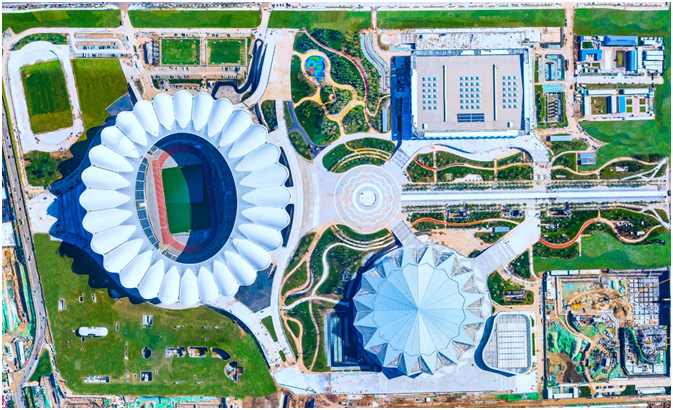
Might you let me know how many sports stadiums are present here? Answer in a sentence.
My tally gives 2 sports stadiums in this view.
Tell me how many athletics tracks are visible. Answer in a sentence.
In total, there are 2 athletics tracks in the scene.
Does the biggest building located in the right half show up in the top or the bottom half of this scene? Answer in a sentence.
The biggest building located in the right half is in the top half of the image.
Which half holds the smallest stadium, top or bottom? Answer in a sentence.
Seen from above, the smallest stadium lies in the bottom half of the view.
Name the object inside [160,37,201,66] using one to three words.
soccer field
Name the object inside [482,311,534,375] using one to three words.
building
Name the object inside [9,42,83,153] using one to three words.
running track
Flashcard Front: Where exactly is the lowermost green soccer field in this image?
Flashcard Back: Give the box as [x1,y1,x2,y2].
[163,164,210,233]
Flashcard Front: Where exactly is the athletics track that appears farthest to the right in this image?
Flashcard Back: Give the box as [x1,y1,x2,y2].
[151,143,223,254]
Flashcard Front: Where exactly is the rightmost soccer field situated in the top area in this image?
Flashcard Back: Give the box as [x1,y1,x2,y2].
[206,37,247,66]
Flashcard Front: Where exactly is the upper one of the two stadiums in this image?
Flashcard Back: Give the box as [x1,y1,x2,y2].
[80,90,291,309]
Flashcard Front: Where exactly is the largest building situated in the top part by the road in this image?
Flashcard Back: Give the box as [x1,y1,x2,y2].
[398,32,540,139]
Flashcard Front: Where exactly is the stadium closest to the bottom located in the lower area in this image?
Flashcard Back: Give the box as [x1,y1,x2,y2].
[354,246,482,375]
